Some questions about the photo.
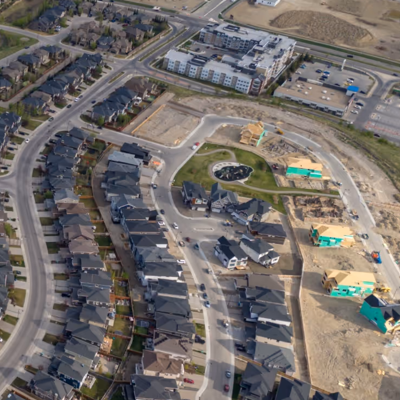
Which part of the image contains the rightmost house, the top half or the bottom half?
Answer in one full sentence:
Seen from above, the rightmost house lies in the bottom half of the view.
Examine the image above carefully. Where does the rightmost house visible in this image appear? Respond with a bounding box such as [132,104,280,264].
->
[357,302,400,332]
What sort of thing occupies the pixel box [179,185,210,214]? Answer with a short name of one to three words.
house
